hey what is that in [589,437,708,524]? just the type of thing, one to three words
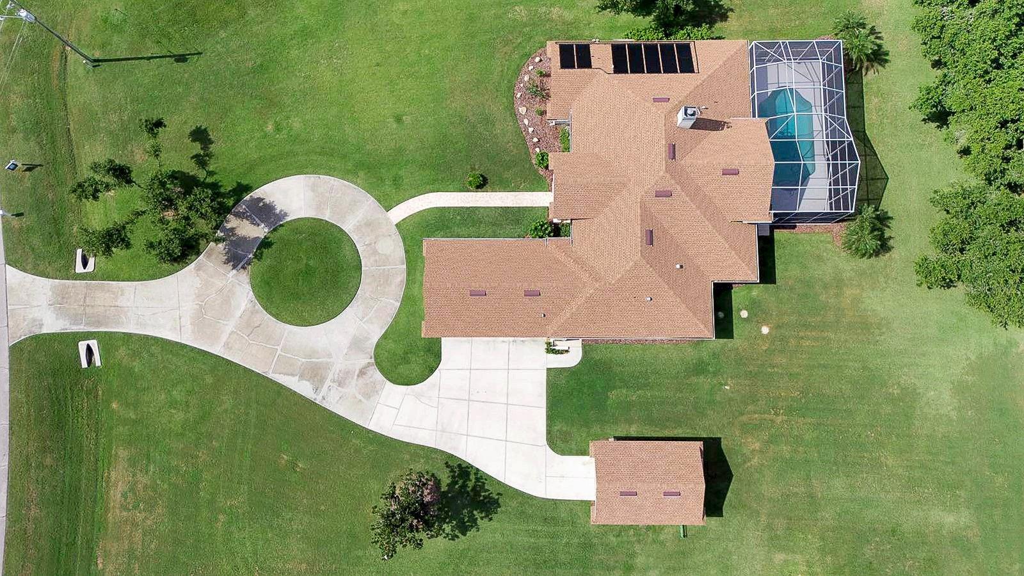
building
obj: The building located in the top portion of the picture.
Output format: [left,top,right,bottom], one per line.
[421,39,776,341]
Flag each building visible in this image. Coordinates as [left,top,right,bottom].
[589,437,708,524]
[421,39,776,341]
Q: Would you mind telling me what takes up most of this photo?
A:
grass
